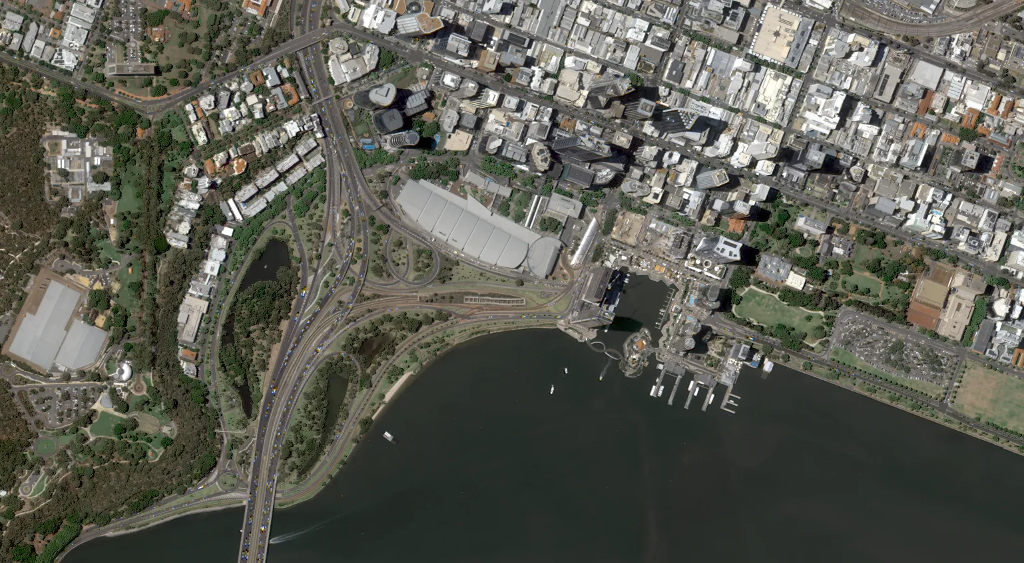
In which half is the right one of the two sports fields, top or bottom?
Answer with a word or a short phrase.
bottom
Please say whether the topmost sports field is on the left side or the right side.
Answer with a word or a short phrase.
right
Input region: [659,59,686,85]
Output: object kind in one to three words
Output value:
building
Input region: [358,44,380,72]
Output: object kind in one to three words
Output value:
building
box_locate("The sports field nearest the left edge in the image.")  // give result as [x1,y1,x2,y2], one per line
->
[734,288,829,344]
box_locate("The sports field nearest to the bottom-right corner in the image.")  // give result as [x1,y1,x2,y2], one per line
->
[953,358,1024,426]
